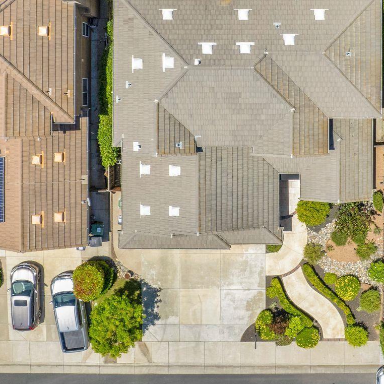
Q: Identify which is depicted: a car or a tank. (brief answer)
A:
car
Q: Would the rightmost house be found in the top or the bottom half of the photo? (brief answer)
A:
top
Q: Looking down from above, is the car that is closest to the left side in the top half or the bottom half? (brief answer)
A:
bottom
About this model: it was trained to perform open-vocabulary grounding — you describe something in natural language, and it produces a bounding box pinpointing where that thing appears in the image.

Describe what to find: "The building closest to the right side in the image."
[111,0,384,252]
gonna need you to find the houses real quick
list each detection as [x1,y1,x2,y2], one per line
[0,0,108,253]
[111,0,384,252]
